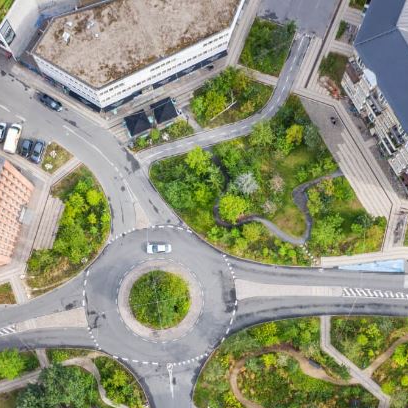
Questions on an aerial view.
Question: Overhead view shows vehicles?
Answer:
Yes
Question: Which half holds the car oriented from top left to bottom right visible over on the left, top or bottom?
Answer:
top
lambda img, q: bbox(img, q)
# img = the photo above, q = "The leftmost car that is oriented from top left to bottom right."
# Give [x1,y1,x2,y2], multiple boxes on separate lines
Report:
[38,92,64,113]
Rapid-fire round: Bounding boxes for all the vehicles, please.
[20,137,35,160]
[30,139,46,164]
[2,124,23,154]
[147,242,171,253]
[0,121,9,143]
[38,92,64,113]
